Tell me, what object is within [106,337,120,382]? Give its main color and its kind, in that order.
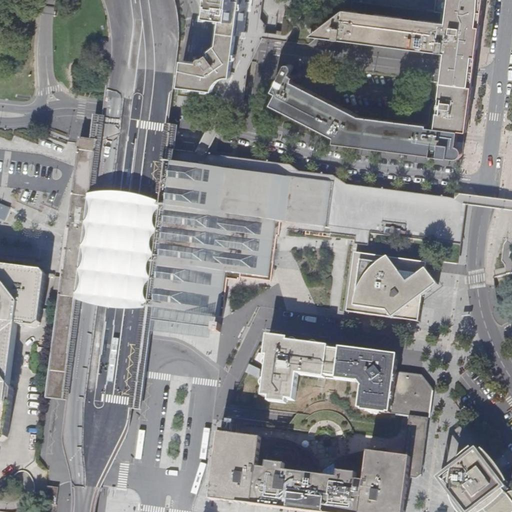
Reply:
white vehicle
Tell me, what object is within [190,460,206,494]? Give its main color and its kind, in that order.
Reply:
white vehicle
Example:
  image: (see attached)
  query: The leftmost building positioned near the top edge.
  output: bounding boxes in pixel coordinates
[175,0,240,96]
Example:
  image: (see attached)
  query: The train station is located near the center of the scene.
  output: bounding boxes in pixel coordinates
[150,149,332,338]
